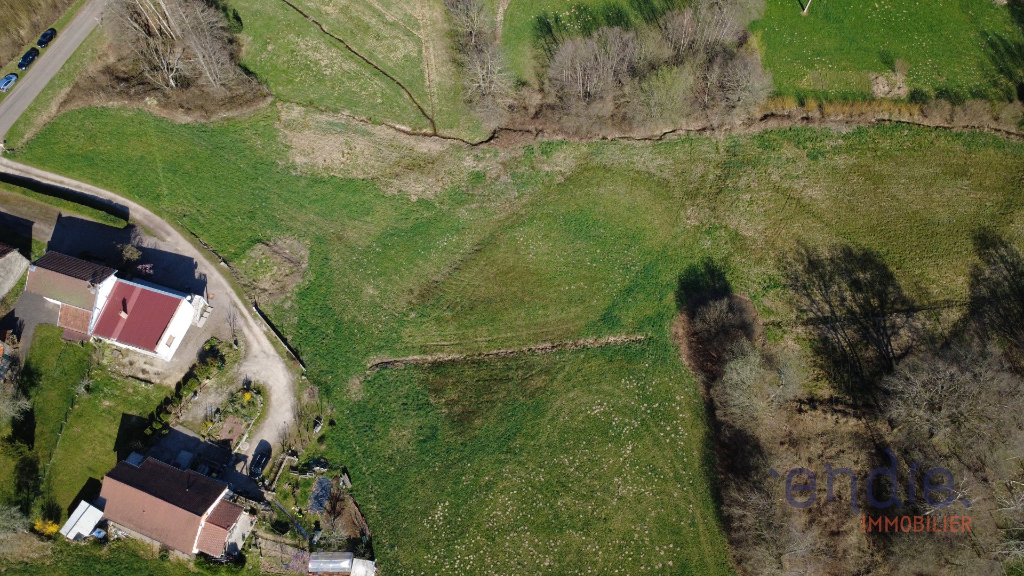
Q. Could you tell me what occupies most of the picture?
grass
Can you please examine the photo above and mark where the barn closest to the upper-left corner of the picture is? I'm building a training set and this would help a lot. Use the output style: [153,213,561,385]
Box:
[0,241,30,300]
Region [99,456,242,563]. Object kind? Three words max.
house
